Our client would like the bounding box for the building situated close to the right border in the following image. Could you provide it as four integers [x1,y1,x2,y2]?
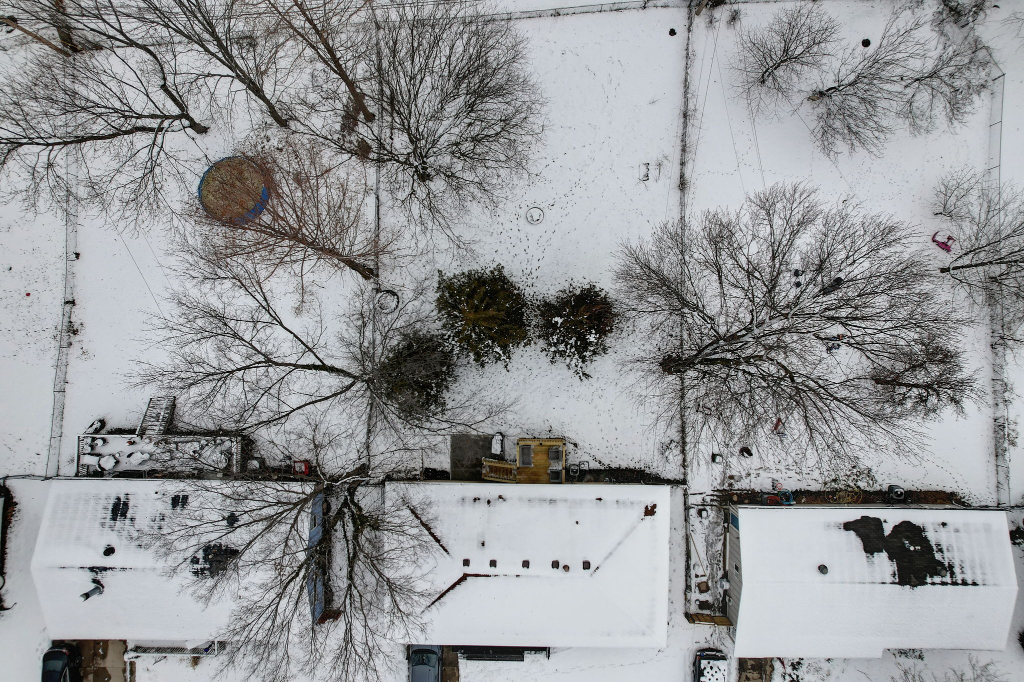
[724,491,1018,658]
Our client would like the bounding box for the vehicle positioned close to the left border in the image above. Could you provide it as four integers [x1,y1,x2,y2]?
[43,648,84,682]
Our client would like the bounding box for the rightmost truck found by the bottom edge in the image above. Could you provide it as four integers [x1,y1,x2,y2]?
[692,647,728,682]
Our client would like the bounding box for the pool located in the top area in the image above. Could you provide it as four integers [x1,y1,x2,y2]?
[198,155,276,228]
